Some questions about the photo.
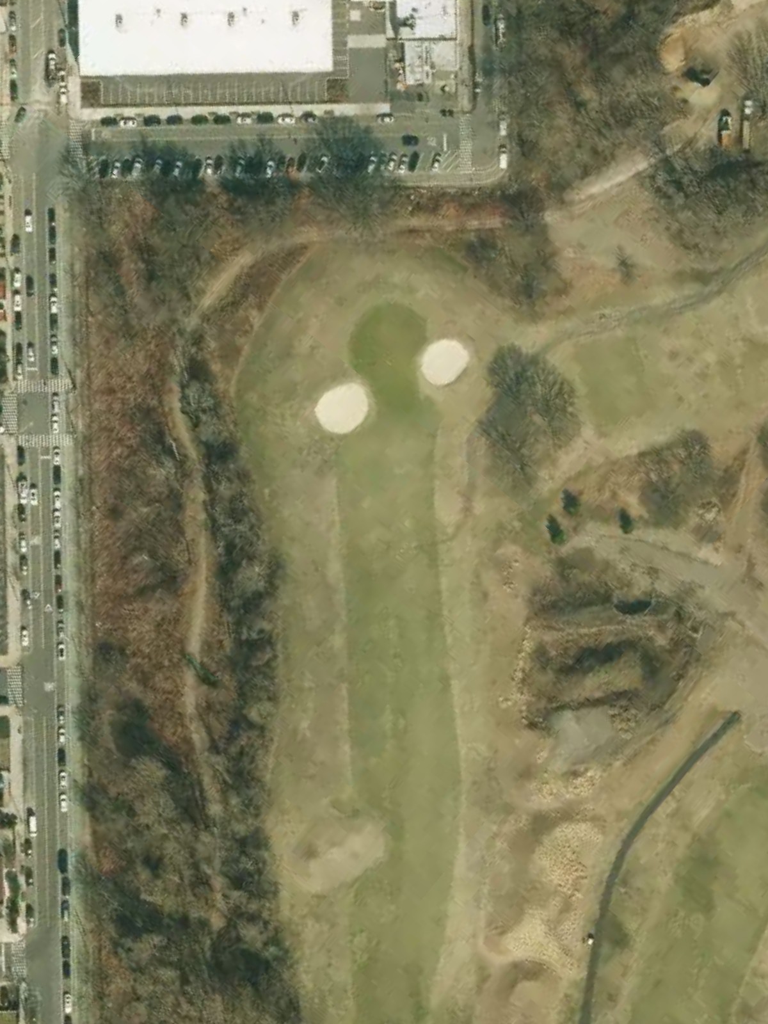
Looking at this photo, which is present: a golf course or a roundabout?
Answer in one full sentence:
Visible in the photo is a golf course.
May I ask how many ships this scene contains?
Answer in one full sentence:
The count of ships is 0.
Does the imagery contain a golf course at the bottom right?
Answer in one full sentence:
Yes, looking at the bottom right, one can make out a golf course.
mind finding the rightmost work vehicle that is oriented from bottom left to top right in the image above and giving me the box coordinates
[687,62,717,90]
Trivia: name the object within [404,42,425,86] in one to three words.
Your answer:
building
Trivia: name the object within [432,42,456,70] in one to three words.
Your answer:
building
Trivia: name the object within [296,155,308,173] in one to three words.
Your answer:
vehicle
